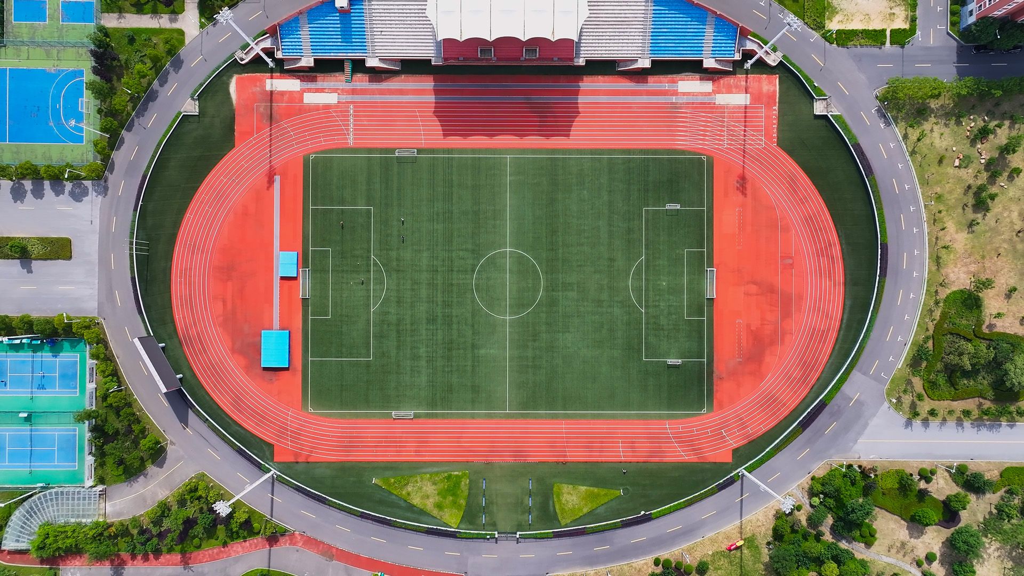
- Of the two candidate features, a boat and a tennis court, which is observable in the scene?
tennis court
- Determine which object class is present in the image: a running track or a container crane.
running track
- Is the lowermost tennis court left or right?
left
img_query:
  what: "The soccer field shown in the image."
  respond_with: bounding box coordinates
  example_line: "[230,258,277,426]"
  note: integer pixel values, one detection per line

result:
[302,148,714,419]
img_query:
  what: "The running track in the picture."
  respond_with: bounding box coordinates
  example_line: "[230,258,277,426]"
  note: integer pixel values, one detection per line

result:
[171,74,845,462]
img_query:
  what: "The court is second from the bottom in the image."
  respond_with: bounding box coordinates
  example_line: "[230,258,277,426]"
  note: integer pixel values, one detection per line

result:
[0,339,86,413]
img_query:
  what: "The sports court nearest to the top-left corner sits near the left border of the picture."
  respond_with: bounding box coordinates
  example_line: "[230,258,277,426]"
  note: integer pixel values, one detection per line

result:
[4,0,53,46]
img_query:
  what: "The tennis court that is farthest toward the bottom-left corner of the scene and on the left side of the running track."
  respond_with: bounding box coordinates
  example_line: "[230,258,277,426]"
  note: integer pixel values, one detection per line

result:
[0,414,85,487]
